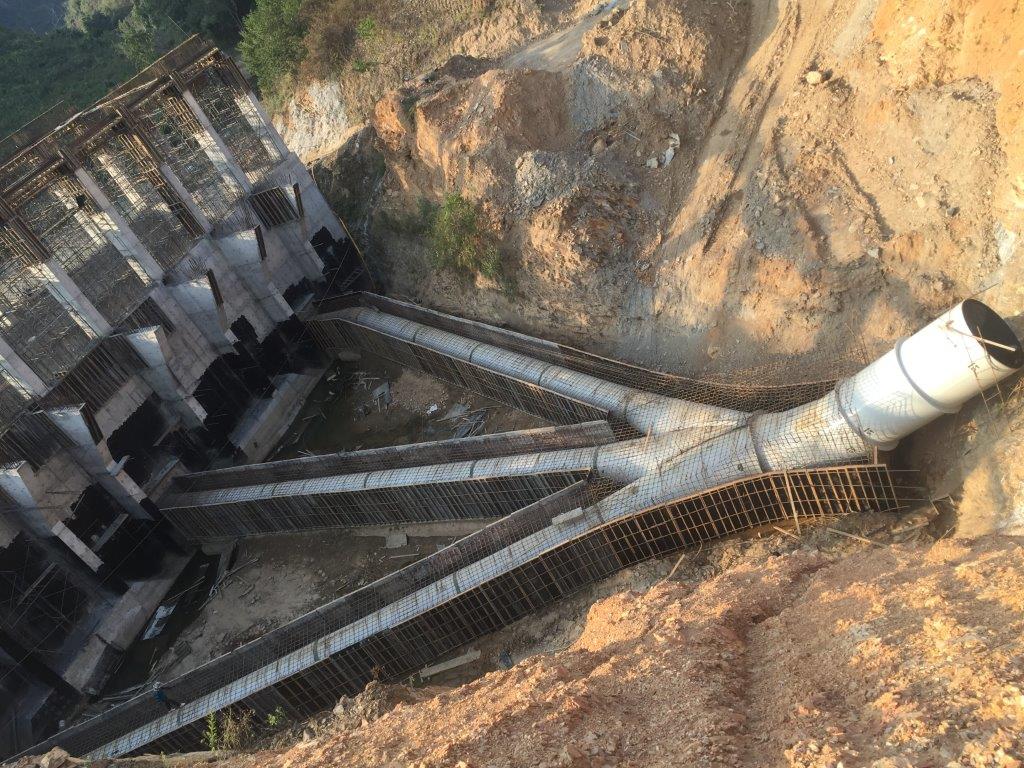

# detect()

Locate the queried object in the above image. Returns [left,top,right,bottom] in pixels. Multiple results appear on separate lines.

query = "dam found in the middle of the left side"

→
[0,53,365,697]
